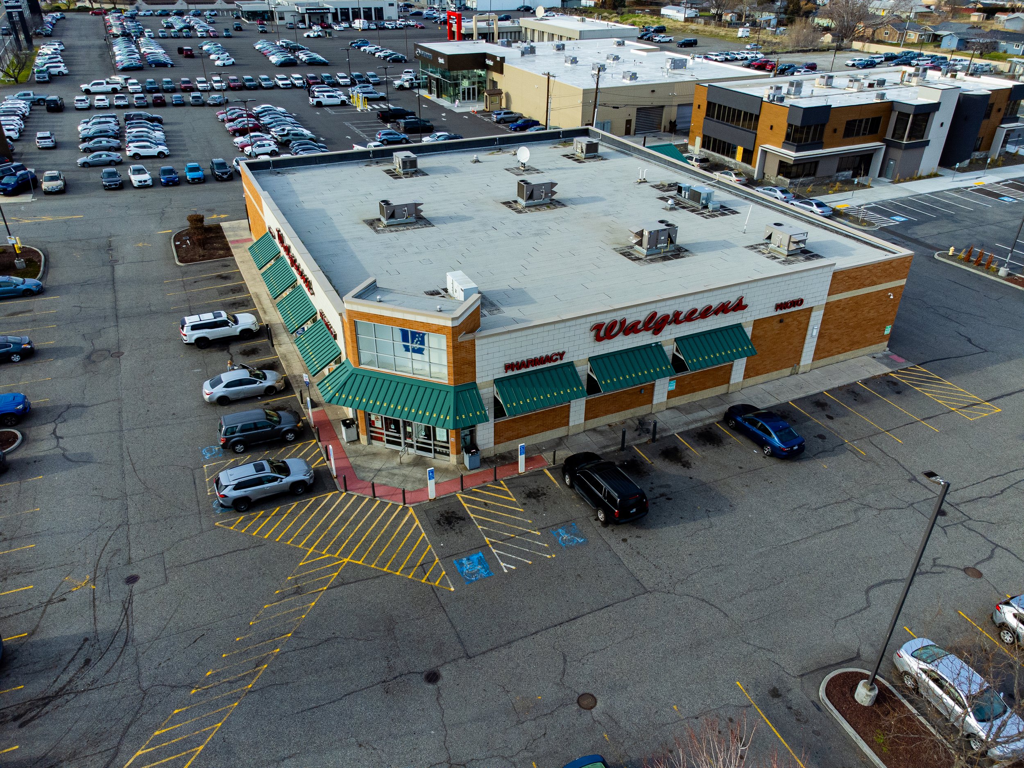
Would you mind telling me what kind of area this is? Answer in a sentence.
This image shows a parking lot.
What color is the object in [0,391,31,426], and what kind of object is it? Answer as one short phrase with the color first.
blue truck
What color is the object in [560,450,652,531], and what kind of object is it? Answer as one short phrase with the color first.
black car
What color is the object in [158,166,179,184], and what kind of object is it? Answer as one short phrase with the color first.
blue car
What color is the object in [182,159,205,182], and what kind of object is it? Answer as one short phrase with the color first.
blue car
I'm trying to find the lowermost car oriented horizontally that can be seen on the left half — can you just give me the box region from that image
[215,459,314,512]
